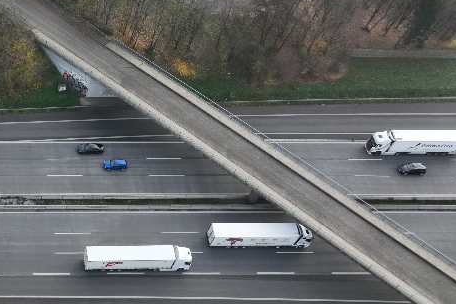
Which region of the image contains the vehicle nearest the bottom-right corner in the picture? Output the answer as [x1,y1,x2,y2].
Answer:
[400,162,428,175]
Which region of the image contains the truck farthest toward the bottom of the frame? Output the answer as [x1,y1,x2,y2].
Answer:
[83,246,193,273]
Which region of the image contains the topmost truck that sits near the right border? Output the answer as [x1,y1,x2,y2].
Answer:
[364,129,456,155]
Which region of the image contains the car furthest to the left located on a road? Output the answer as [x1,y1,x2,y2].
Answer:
[77,142,105,154]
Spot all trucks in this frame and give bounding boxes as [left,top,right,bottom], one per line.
[206,223,317,250]
[83,246,193,273]
[364,129,456,155]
